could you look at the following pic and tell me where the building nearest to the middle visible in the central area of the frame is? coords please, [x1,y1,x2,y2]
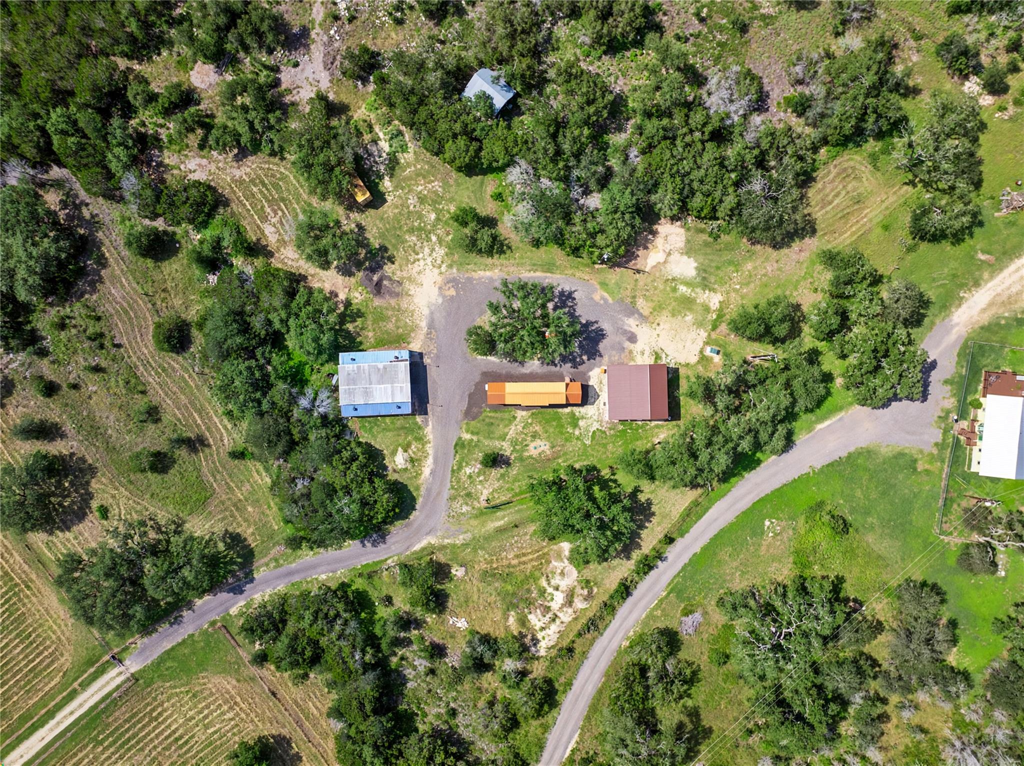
[487,382,582,407]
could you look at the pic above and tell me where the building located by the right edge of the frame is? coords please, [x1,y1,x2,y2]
[961,395,1024,480]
